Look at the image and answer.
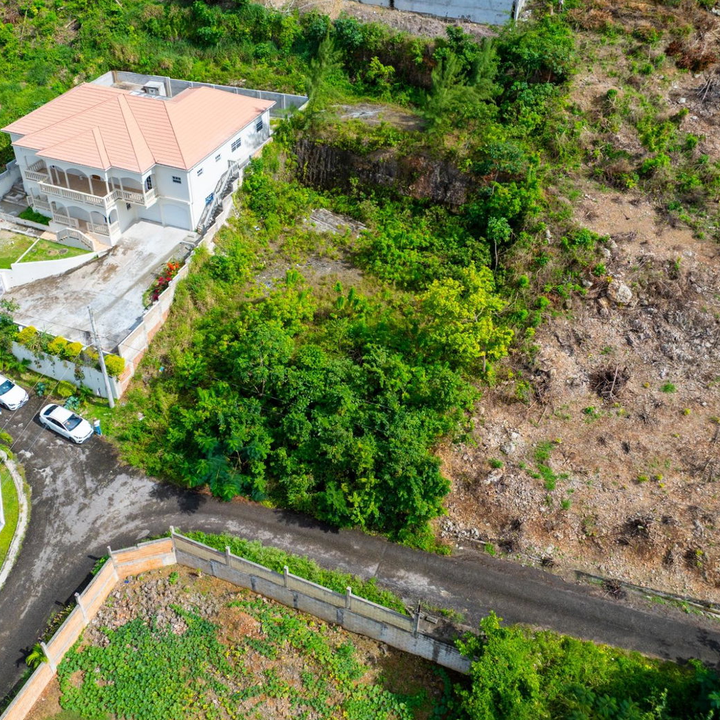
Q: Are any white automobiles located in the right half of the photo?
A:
No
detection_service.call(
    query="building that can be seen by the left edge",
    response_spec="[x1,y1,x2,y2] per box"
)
[0,83,277,243]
